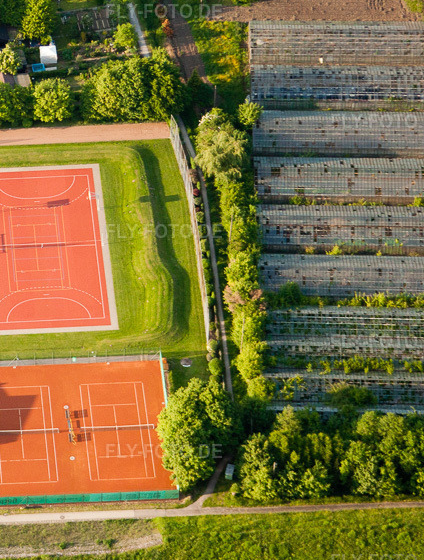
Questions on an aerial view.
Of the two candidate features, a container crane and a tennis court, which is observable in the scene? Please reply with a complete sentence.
It is a tennis court that can be seen here.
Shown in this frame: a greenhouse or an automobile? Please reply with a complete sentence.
The image shows a greenhouse.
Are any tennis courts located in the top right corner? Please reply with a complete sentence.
No, there is no tennis court in the top right corner.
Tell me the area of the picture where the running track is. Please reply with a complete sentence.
The running track sits in the top left section of the image.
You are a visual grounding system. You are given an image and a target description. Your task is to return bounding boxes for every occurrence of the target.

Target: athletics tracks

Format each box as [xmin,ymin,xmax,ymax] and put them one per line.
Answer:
[0,122,172,144]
